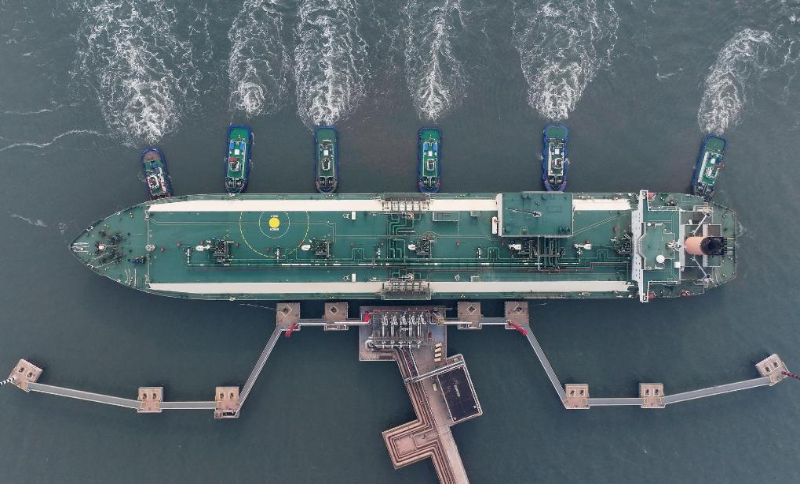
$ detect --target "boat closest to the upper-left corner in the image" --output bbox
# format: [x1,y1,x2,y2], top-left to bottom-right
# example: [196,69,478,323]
[141,147,173,199]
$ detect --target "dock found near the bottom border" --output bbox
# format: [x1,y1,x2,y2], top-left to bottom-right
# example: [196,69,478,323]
[360,307,483,484]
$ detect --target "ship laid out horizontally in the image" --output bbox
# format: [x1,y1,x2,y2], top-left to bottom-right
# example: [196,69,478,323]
[70,190,736,302]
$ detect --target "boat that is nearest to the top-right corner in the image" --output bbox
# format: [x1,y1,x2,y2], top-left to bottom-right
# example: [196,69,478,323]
[692,134,726,199]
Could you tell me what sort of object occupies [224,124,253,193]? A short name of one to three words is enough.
boat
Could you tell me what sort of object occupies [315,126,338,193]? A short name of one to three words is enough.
boat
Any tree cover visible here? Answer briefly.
No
